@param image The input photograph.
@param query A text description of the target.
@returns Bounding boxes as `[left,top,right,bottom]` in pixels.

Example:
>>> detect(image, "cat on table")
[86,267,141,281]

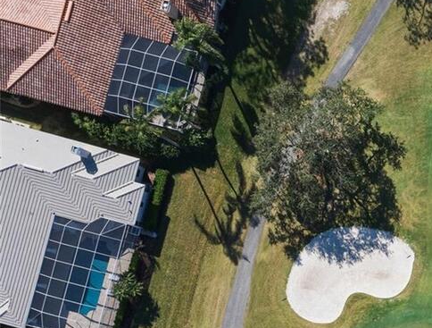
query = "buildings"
[0,0,237,117]
[0,120,151,328]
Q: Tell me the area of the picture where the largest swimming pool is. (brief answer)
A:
bottom left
